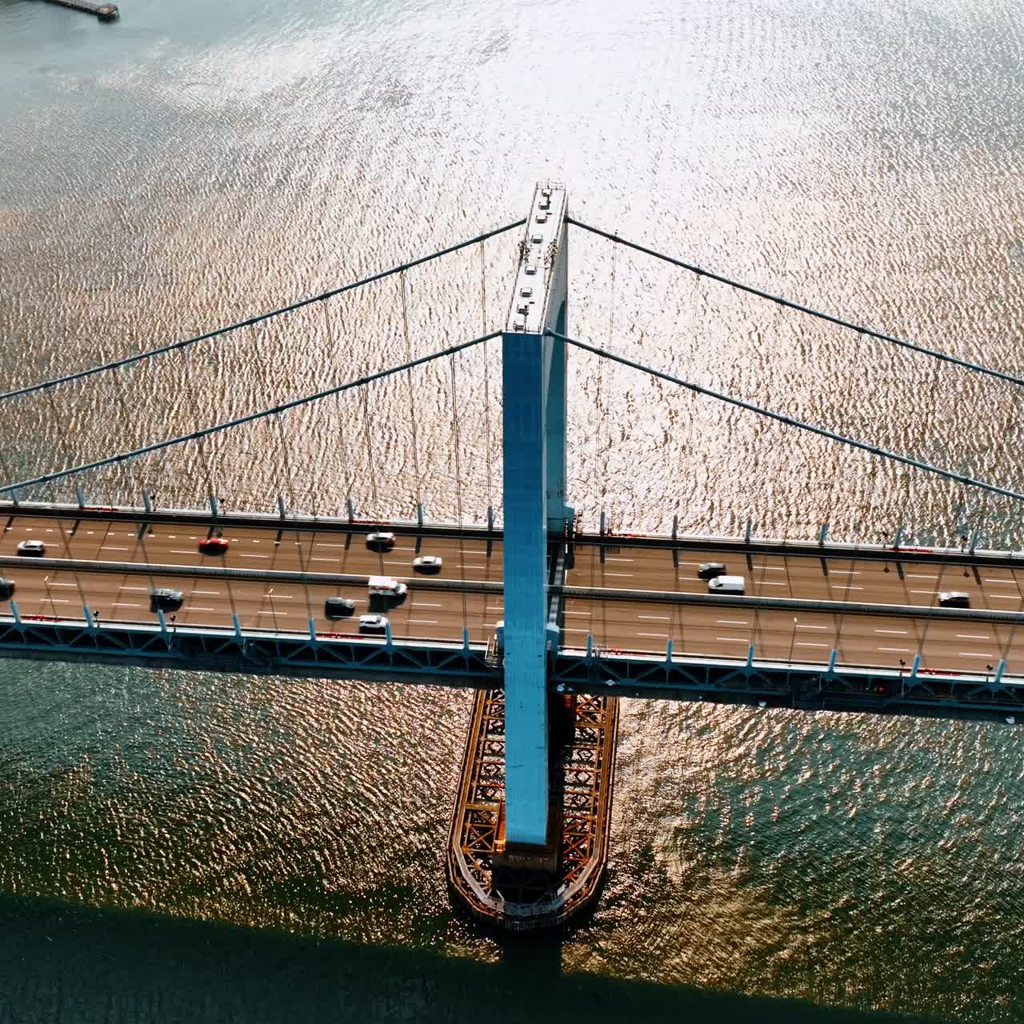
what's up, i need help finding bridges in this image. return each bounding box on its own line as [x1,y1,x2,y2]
[0,176,1024,876]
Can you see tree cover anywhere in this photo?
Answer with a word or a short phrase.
No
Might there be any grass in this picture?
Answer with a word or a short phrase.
No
